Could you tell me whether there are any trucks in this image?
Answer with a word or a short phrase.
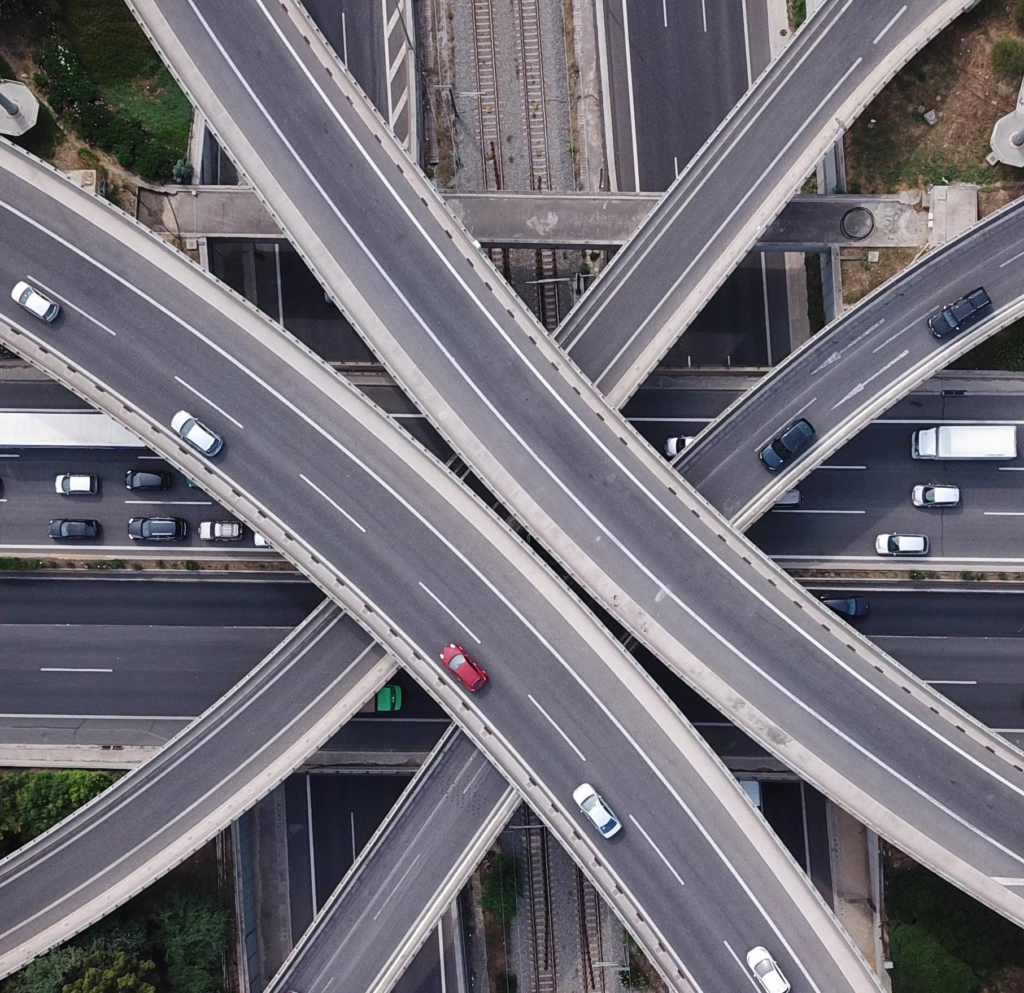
Yes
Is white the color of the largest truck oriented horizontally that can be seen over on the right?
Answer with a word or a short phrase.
Yes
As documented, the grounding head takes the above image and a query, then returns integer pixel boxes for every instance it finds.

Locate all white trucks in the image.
[0,415,151,451]
[910,425,1017,459]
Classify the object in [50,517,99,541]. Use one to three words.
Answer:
car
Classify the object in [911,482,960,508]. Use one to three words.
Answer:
car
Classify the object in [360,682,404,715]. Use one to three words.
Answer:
truck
